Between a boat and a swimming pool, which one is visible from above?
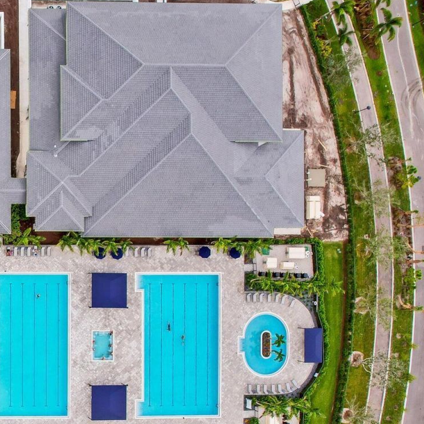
swimming pool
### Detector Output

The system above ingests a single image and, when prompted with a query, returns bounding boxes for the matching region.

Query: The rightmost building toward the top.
[27,1,304,236]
